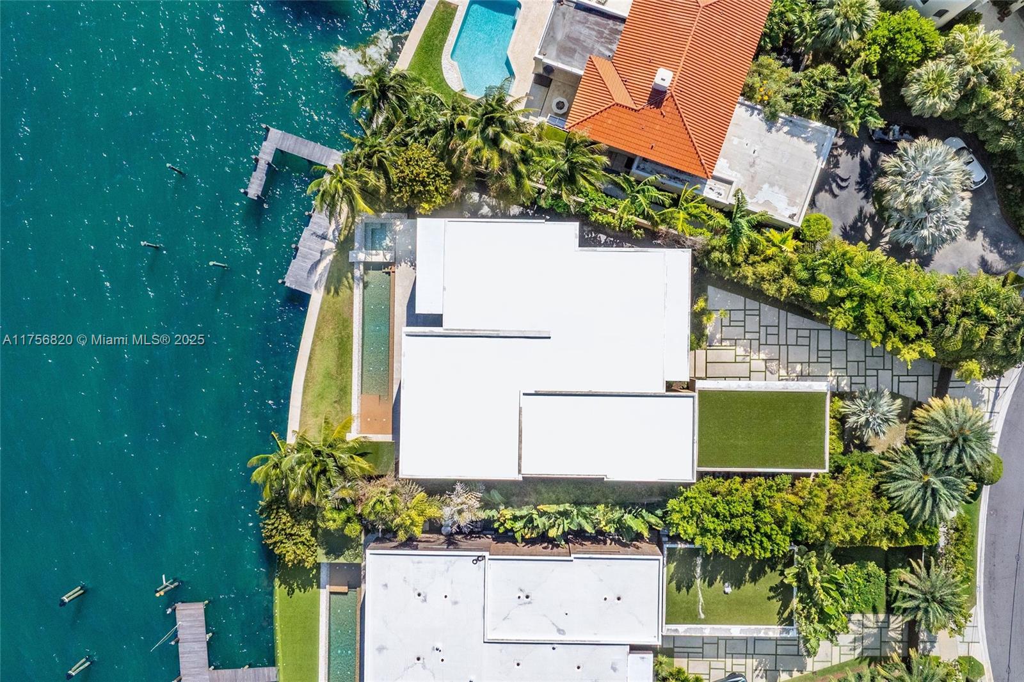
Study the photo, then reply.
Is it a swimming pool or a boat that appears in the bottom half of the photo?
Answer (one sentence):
The one visible in the bottom half of the photo is a swimming pool.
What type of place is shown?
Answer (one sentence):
It's a residential area.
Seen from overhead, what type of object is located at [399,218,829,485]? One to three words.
house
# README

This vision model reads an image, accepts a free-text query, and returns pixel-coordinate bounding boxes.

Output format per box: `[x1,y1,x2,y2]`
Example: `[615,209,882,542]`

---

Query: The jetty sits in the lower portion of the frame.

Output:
[170,593,278,682]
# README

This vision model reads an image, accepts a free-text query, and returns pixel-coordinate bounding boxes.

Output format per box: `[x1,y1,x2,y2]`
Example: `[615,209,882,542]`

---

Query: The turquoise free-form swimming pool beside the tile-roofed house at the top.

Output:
[441,0,553,106]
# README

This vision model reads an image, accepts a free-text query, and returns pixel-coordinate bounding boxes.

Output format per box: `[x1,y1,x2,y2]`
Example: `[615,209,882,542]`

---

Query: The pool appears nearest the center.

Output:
[347,212,408,442]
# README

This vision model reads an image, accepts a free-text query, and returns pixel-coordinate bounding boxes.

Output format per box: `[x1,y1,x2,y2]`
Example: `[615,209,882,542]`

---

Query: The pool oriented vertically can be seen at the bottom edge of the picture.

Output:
[318,570,362,682]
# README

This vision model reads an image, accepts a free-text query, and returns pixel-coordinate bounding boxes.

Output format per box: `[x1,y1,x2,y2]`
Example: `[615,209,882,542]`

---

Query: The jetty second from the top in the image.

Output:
[278,209,338,295]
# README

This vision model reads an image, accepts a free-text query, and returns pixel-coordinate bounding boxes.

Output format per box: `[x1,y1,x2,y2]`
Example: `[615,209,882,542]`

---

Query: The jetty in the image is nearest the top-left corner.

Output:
[242,126,341,202]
